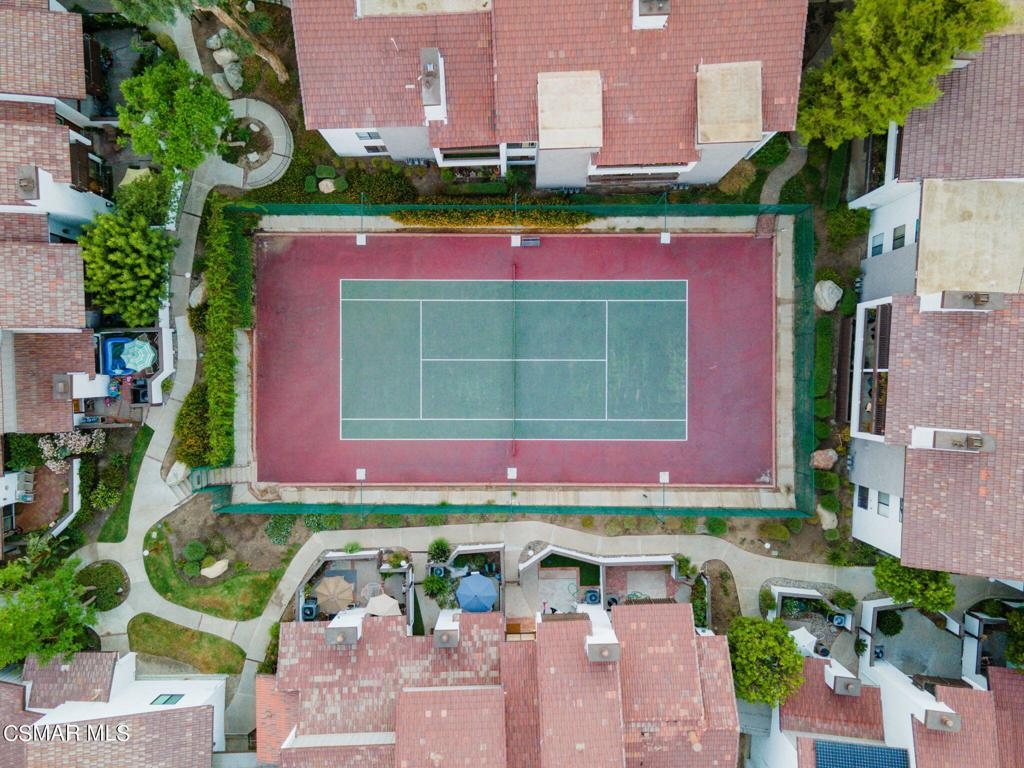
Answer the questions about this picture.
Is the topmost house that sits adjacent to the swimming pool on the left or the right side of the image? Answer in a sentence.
The topmost house that sits adjacent to the swimming pool is on the left side of the image.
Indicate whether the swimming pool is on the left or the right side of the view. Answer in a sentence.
The swimming pool appears in the left half of the scene.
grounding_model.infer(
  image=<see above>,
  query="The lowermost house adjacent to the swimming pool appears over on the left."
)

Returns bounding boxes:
[0,331,107,473]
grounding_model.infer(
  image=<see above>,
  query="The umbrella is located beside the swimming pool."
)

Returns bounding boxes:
[121,337,159,371]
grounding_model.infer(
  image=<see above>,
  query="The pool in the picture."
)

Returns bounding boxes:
[105,339,135,374]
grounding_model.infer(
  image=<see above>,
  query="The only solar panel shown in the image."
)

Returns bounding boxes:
[816,741,909,768]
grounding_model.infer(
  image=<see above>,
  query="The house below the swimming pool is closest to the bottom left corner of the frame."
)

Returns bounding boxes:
[0,646,233,768]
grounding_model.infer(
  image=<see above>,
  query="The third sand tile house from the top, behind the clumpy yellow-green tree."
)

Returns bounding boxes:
[0,206,115,335]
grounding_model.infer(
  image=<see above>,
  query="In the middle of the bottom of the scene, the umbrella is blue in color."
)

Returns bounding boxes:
[457,573,496,611]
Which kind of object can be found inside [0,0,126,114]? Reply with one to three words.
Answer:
house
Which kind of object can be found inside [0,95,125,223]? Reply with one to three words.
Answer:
house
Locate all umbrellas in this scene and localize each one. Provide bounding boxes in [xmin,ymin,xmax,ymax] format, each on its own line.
[367,589,397,616]
[785,624,822,657]
[120,160,159,191]
[121,337,159,371]
[316,575,355,614]
[457,573,496,611]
